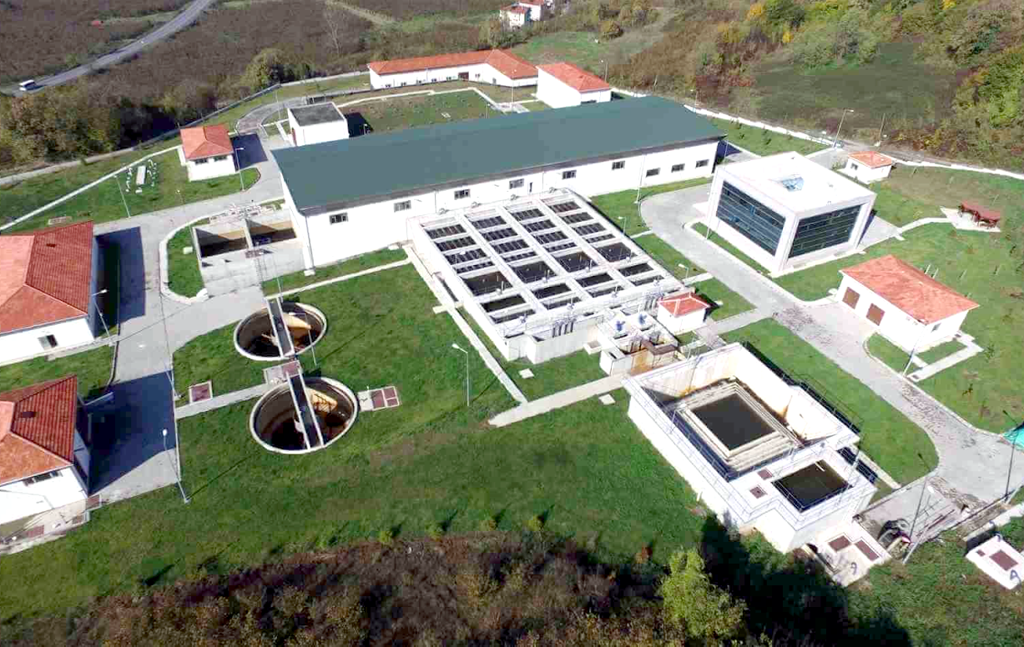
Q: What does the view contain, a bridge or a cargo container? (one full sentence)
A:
This aerial view contains a bridge.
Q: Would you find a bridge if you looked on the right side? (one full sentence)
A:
No, the scene shows no bridge on the right side.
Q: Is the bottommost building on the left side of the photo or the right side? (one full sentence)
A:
You can find the bottommost building on the left side of the picture.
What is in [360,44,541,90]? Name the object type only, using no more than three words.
building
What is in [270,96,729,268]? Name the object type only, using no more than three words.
building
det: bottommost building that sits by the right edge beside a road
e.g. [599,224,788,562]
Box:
[832,254,981,349]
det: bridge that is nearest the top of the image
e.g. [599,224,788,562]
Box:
[267,298,296,357]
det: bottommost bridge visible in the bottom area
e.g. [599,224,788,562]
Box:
[289,372,325,449]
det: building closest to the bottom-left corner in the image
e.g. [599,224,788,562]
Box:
[0,370,106,522]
